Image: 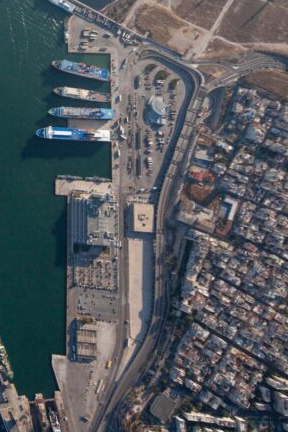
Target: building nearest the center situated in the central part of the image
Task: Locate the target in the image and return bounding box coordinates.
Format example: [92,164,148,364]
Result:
[131,204,155,232]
